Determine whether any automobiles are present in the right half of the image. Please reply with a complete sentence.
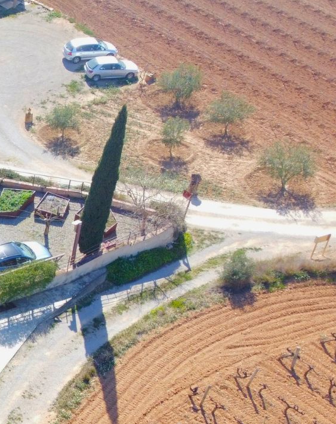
No, the scene shows no automobile in the right half of the image.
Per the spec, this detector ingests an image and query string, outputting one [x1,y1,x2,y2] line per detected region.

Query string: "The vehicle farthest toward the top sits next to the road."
[57,34,120,64]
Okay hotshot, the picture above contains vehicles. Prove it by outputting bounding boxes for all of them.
[80,52,143,81]
[0,240,54,276]
[57,34,120,64]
